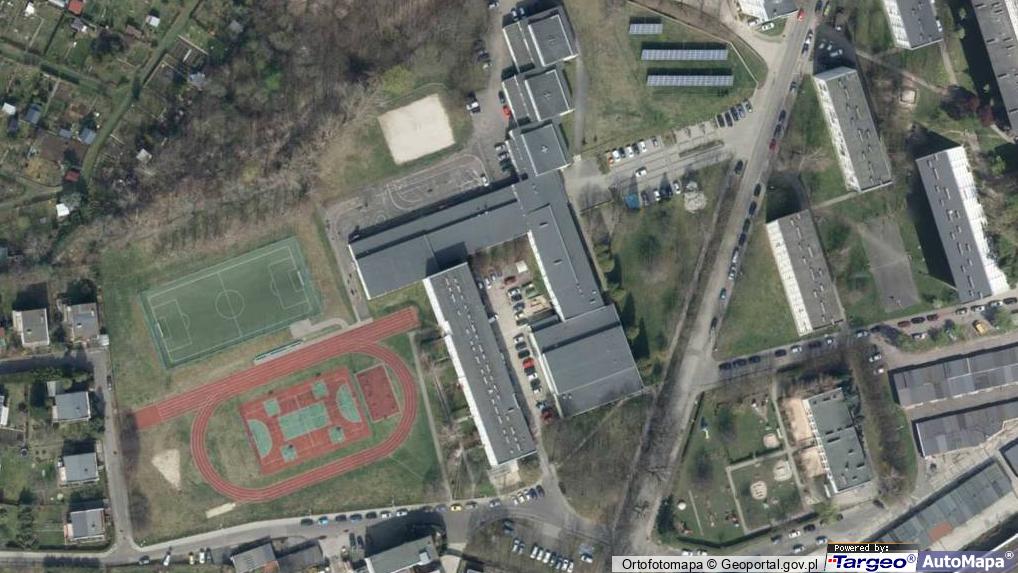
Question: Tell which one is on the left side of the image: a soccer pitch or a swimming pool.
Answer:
soccer pitch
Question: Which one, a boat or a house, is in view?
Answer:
house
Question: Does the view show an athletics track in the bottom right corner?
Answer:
No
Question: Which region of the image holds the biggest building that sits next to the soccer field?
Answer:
center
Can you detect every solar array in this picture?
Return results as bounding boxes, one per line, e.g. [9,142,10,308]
[628,23,665,33]
[642,50,729,60]
[647,76,734,86]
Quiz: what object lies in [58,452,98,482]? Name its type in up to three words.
house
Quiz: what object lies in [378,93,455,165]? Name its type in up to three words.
sports court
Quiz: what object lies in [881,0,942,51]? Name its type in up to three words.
building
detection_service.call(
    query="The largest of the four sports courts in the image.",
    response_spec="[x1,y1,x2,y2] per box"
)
[240,366,373,476]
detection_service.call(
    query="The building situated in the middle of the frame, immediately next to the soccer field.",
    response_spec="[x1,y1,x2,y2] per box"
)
[347,6,645,464]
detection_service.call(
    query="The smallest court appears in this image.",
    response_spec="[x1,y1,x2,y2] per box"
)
[356,364,400,422]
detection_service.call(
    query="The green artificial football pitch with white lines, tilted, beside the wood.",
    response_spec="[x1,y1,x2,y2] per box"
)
[139,236,321,368]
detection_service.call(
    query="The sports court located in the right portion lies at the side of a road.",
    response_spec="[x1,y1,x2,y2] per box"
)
[860,213,920,311]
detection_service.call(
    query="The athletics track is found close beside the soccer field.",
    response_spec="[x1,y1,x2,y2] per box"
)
[135,305,420,503]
